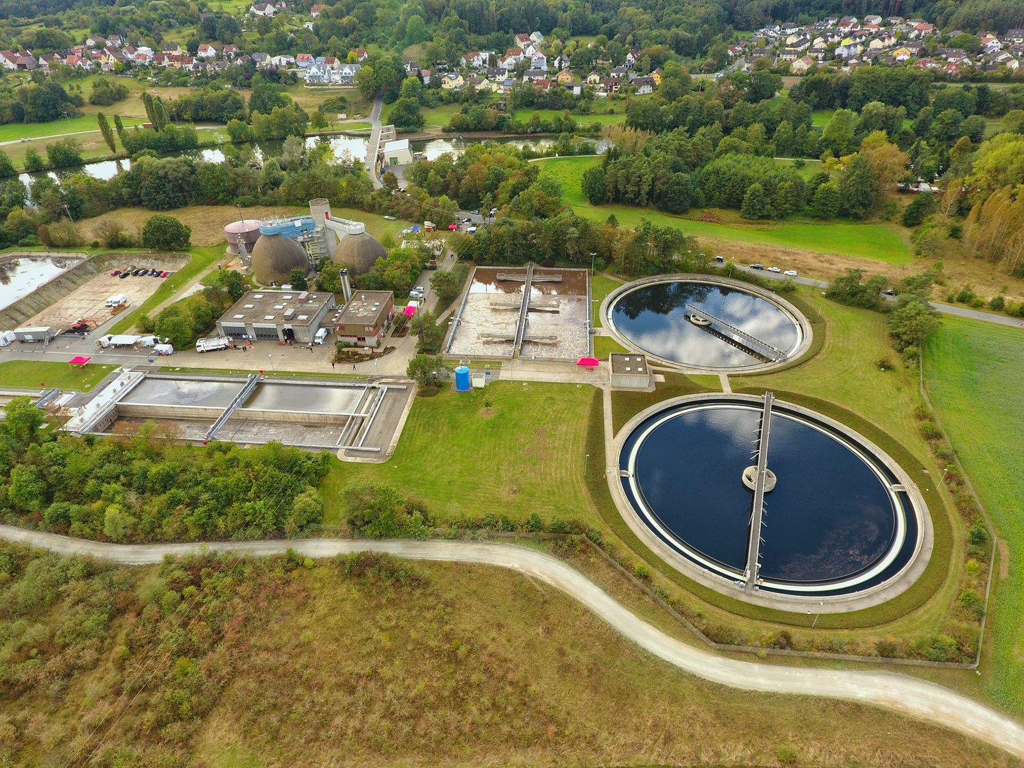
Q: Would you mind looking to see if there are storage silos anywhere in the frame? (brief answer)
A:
Yes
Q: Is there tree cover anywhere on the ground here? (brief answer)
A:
Yes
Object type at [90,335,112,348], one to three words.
vehicle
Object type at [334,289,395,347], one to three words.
building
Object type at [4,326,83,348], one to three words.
trailer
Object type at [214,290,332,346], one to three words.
building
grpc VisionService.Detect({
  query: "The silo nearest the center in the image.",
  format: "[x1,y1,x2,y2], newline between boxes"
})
[450,363,475,394]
